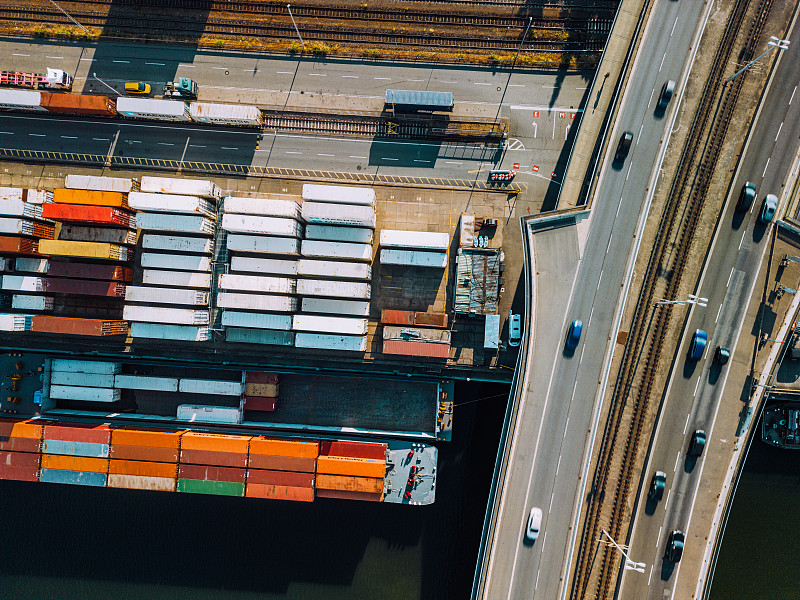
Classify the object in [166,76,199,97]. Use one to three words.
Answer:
truck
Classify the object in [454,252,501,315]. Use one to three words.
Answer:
shed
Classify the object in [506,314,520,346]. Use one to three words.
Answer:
vehicle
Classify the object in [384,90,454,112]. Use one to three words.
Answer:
trailer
